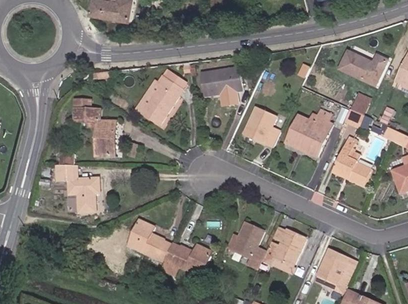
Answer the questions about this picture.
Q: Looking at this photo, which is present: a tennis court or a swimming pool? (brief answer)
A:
swimming pool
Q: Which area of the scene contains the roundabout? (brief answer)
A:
top left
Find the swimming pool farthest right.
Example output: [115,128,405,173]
[358,130,388,168]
